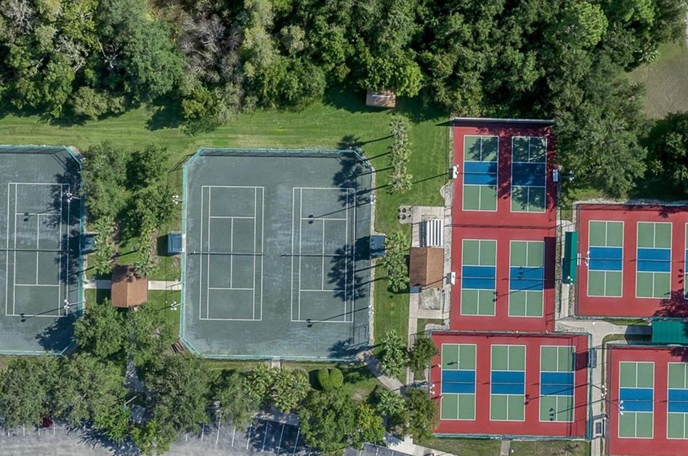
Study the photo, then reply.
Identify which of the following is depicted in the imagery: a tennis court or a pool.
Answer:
tennis court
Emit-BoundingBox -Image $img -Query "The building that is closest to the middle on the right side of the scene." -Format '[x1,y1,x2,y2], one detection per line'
[410,247,444,288]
